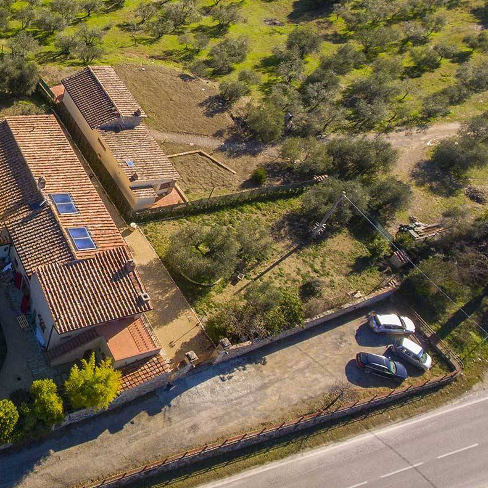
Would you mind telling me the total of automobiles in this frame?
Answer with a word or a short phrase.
3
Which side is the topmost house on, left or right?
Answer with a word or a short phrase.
left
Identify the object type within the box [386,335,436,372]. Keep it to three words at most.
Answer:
car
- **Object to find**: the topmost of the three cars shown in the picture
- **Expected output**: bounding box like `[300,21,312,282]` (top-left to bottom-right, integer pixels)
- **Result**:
[365,315,416,339]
